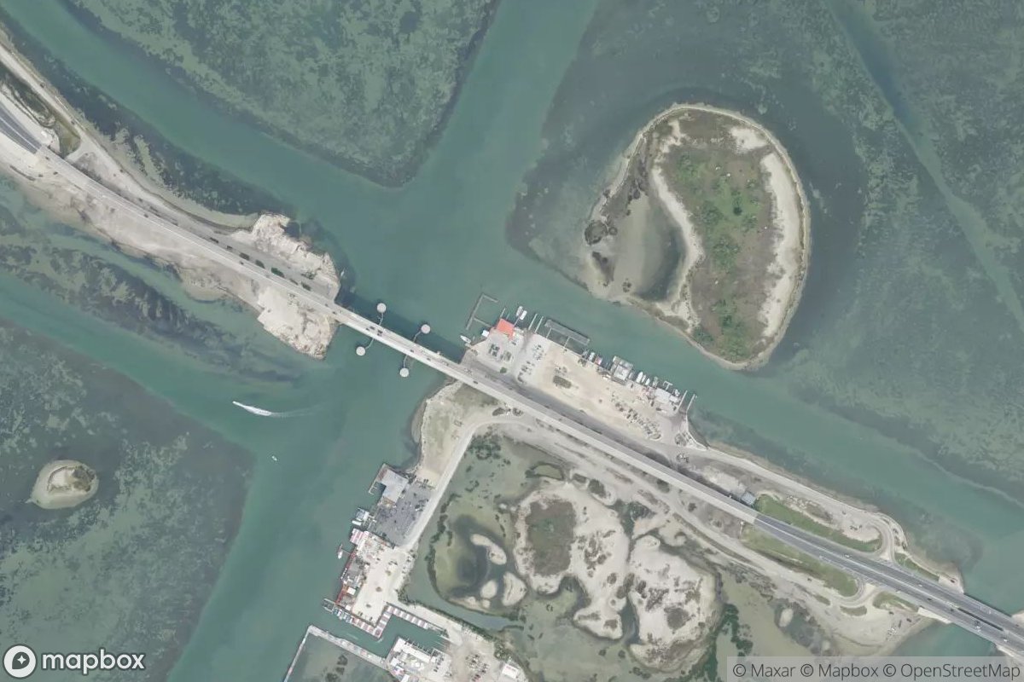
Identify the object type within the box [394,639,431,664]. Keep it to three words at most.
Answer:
house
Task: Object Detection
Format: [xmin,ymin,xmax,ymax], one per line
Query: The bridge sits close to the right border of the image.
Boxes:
[918,588,1024,663]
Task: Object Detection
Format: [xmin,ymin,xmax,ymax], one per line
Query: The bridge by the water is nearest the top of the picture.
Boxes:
[35,145,758,525]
